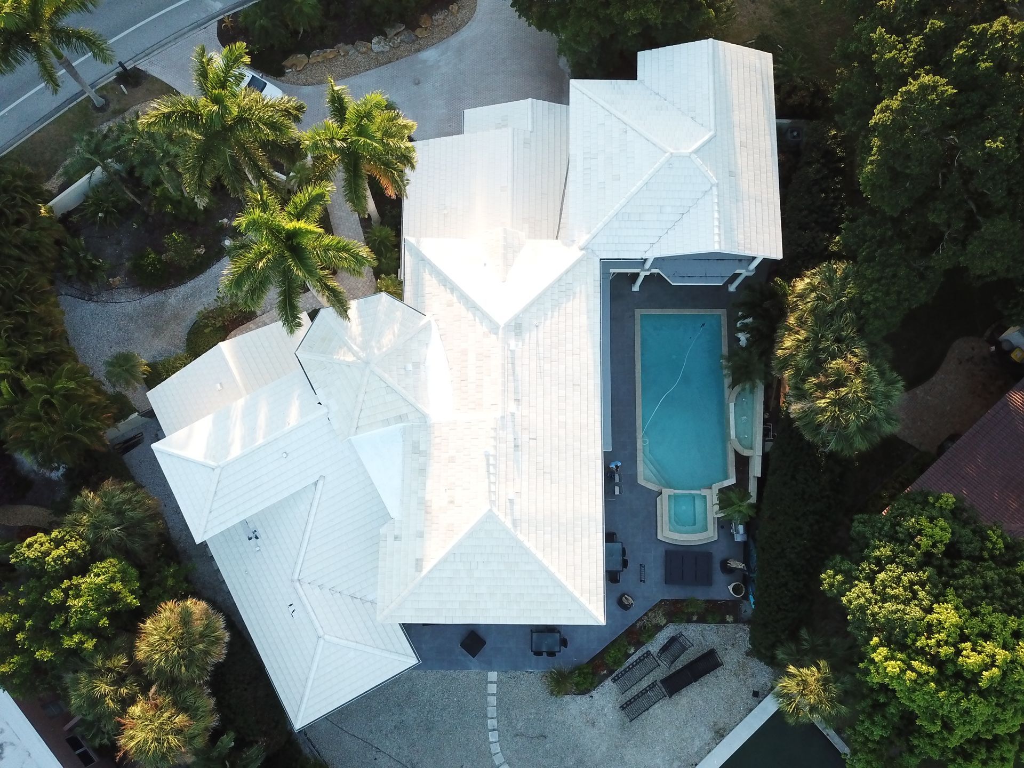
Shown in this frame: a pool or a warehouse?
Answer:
pool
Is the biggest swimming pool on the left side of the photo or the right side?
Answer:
right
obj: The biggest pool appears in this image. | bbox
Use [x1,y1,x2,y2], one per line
[635,309,735,494]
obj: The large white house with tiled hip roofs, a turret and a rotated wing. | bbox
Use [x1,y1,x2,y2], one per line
[146,38,783,732]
